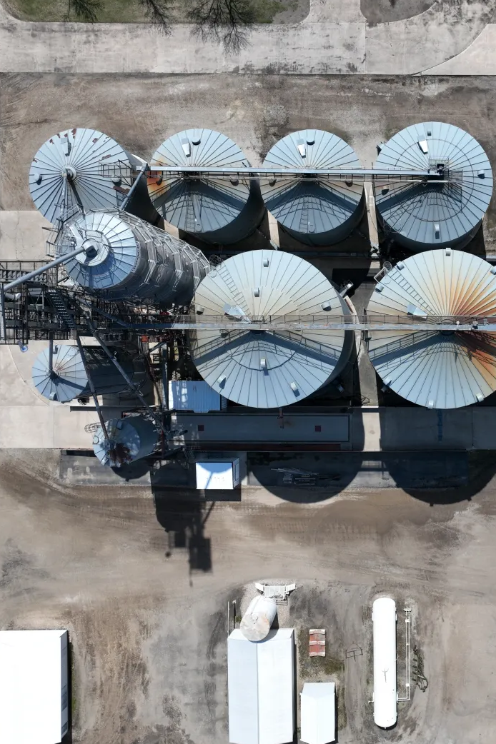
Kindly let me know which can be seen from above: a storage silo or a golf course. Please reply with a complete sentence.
Looking from above, you can make out a storage silo.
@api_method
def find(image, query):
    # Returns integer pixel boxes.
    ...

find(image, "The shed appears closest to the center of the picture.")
[168,380,227,420]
